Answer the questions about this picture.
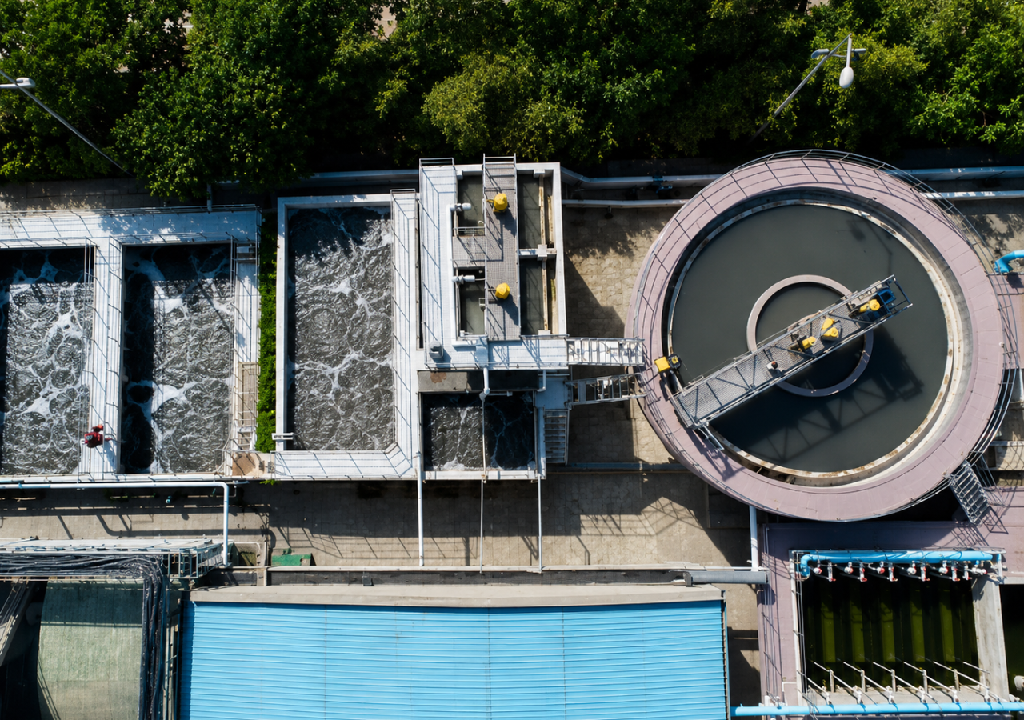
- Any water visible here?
Yes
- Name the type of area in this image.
industrial area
